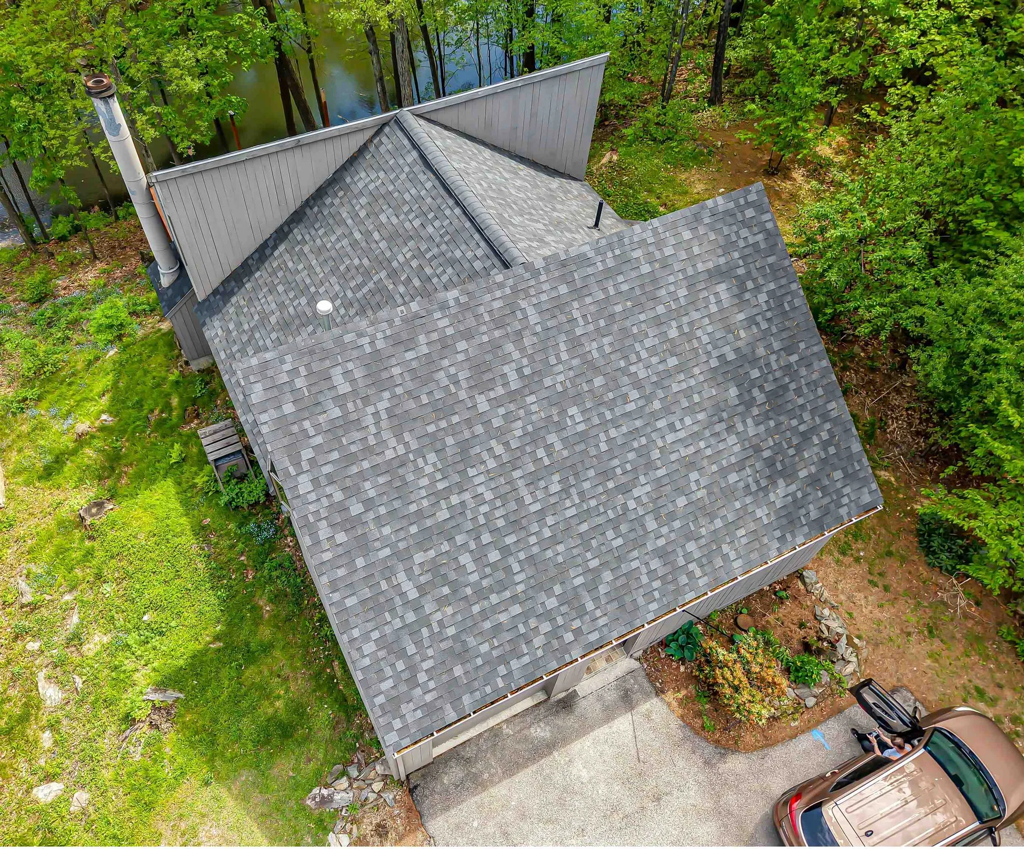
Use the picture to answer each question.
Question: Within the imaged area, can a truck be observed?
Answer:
No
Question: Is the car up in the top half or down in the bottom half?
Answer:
bottom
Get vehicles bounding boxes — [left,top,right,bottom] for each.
[770,689,1024,849]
